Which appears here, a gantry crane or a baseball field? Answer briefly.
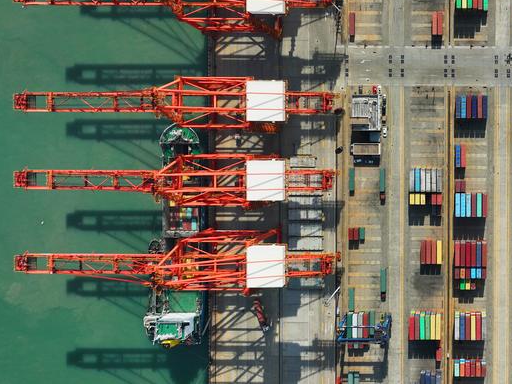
gantry crane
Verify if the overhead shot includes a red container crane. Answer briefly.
Yes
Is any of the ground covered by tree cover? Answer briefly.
No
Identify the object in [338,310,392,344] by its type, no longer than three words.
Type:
container crane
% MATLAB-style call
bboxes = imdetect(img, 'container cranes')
[12,143,336,209]
[12,69,336,140]
[12,0,338,47]
[12,215,336,294]
[338,310,392,344]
